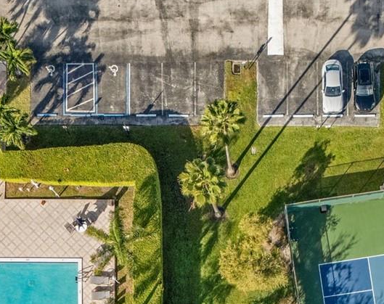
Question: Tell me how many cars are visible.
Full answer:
Looking from above, you can make out 2 cars.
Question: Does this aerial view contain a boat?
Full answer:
No, the photo shows no boat.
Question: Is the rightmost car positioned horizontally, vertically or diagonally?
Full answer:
In this picture, the rightmost car is oriented vertically.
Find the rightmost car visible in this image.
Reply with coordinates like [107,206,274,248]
[353,59,381,112]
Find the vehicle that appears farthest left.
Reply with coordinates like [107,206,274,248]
[320,58,348,113]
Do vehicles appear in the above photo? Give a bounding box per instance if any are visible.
[320,58,348,113]
[353,59,381,112]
